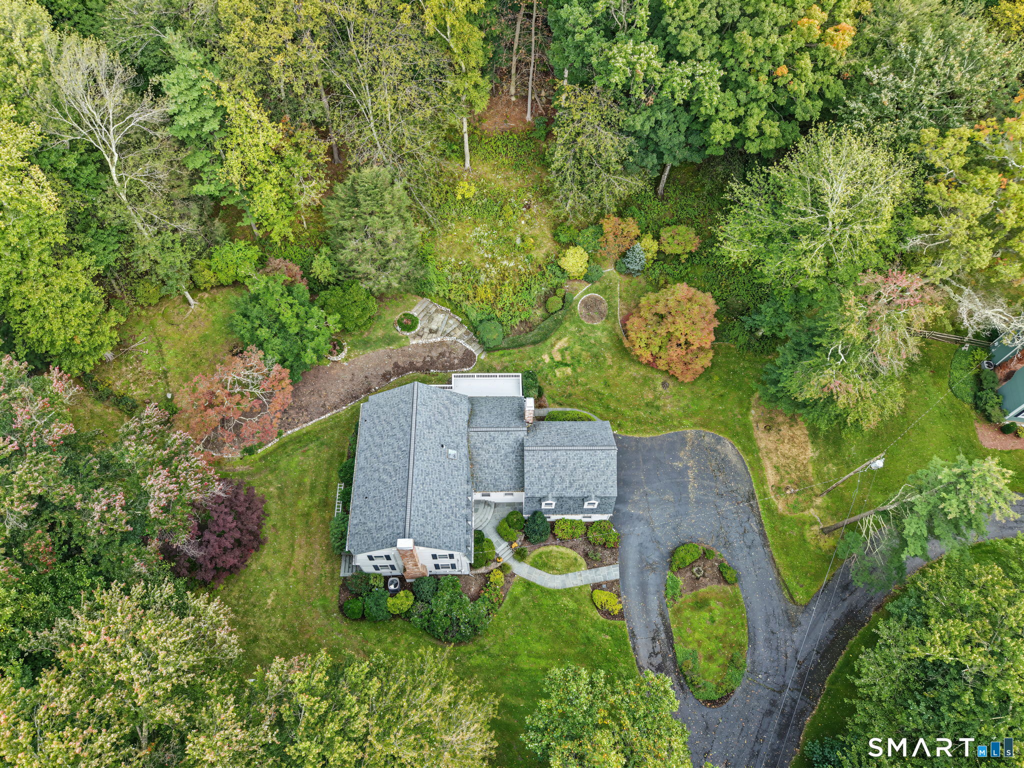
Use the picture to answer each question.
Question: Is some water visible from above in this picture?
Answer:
No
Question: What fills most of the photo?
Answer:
trees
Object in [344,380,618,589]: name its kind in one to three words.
house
